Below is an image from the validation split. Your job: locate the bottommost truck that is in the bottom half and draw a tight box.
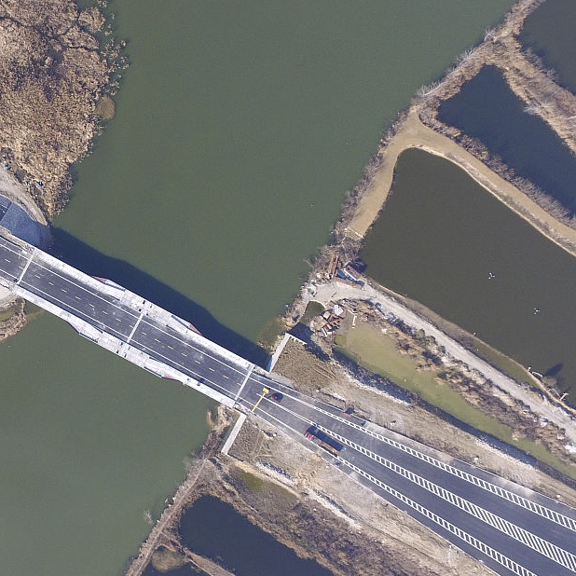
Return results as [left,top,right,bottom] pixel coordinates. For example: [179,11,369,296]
[306,431,344,455]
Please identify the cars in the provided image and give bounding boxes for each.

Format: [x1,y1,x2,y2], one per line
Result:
[342,411,353,419]
[269,391,282,401]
